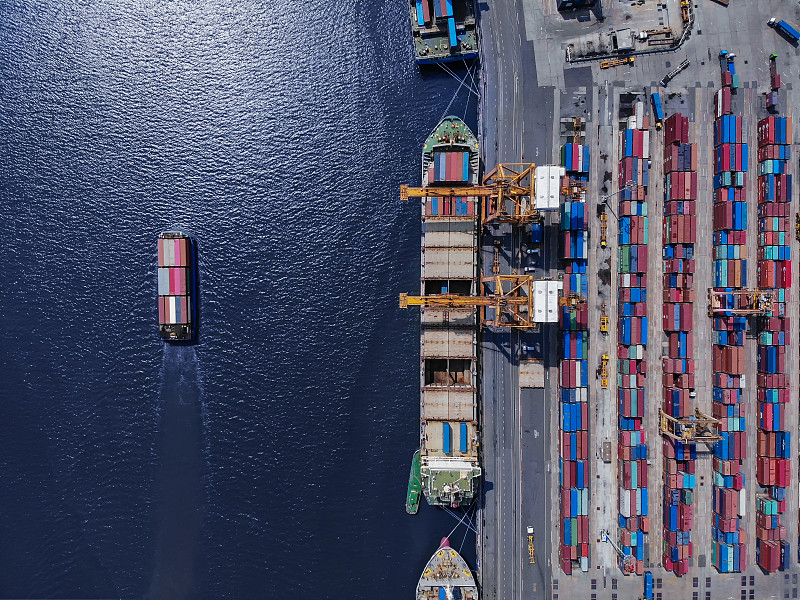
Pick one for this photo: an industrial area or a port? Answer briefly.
port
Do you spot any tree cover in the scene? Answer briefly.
No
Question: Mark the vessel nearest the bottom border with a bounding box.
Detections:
[416,535,479,600]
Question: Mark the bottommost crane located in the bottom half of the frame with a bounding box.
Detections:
[662,409,726,442]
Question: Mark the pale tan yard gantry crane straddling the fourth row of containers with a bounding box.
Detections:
[710,288,777,316]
